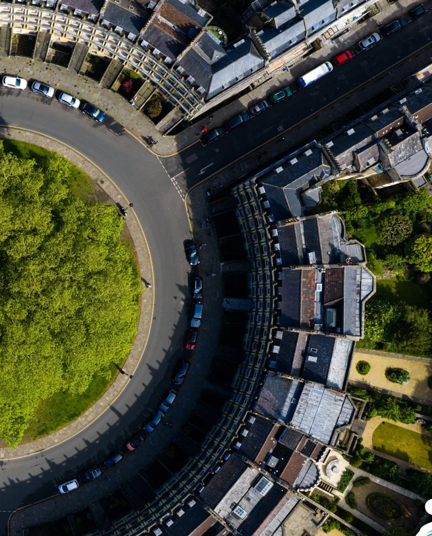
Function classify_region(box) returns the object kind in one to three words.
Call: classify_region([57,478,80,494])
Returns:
car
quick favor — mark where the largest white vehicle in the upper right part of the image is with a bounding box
[296,61,332,89]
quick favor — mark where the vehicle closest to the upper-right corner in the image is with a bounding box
[406,2,429,21]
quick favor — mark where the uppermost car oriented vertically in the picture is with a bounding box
[183,239,198,265]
